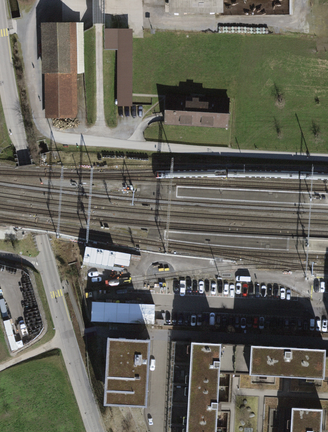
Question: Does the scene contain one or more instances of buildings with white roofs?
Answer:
Yes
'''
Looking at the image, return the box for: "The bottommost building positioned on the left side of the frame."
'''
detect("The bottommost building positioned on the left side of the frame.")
[103,336,150,407]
